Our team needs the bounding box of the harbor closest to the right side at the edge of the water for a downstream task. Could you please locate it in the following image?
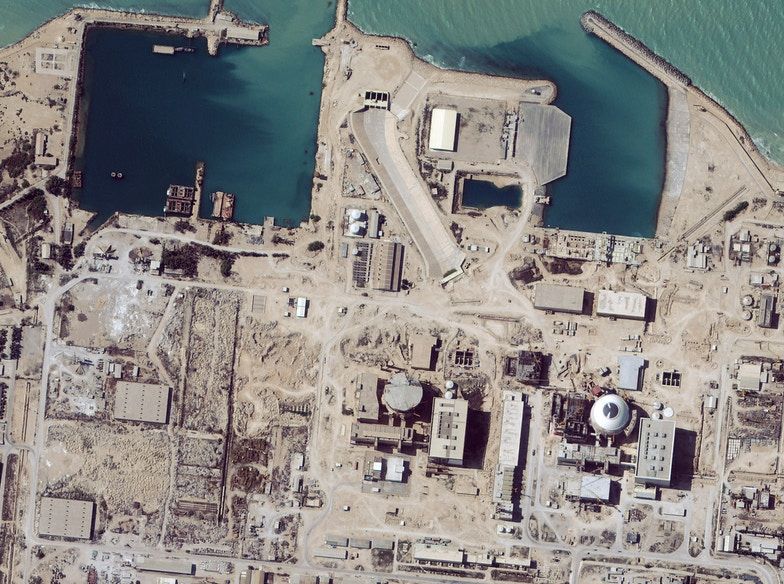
[342,0,784,243]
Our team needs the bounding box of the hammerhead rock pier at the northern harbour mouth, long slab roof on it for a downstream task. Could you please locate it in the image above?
[194,0,272,58]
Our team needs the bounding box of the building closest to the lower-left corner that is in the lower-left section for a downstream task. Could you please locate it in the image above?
[38,496,94,540]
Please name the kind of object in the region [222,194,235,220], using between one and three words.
ship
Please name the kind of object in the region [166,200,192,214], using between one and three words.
ship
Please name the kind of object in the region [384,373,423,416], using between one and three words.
building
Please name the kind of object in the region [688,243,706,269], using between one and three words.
house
